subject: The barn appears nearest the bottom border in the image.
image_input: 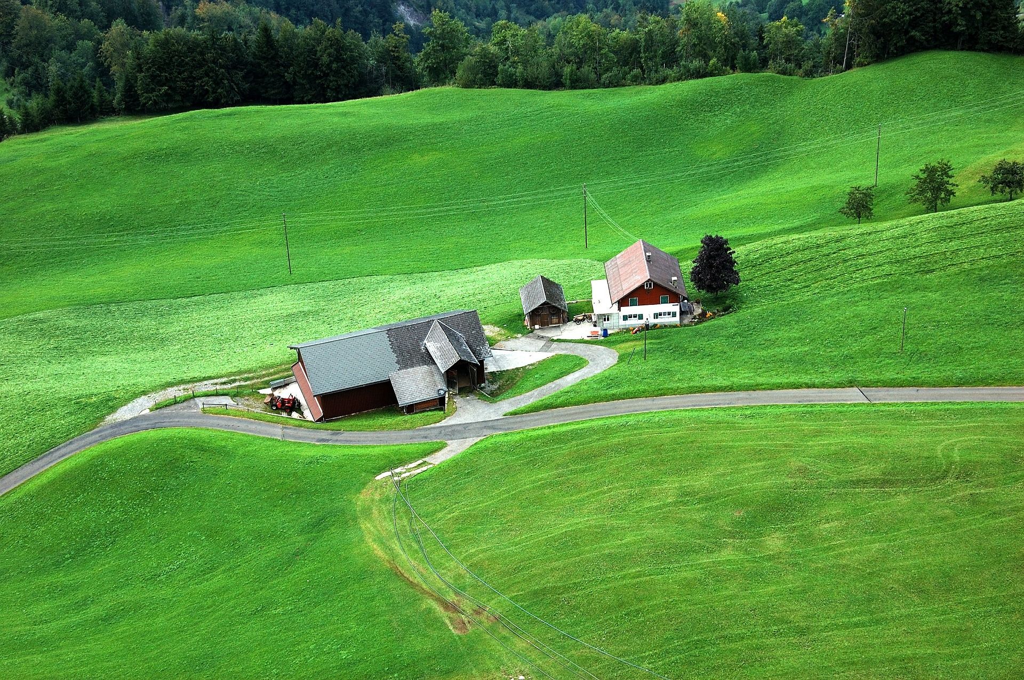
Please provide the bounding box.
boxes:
[287,310,494,423]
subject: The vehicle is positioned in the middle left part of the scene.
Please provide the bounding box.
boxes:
[258,395,301,413]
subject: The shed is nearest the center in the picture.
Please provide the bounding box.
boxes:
[519,275,568,331]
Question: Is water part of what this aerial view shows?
No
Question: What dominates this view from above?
grass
